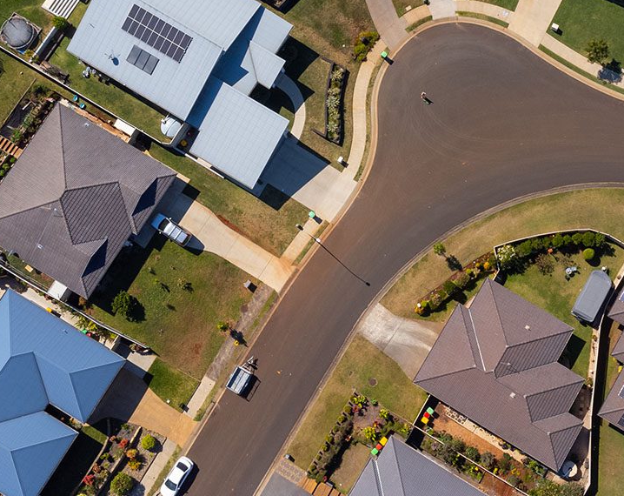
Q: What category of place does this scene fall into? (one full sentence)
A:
It's a residential area.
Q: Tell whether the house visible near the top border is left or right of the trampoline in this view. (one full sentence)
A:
Relative to the trampoline, the house visible near the top border is on the right.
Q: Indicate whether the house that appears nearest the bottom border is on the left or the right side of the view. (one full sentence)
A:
The house that appears nearest the bottom border appears in the right half of the scene.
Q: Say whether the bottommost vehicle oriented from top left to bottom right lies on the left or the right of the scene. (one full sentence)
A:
The bottommost vehicle oriented from top left to bottom right sits on the left side.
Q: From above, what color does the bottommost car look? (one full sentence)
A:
From above, the bottommost car appears white.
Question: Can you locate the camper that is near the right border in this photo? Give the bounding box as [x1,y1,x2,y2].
[571,267,608,325]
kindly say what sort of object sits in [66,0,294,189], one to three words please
house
